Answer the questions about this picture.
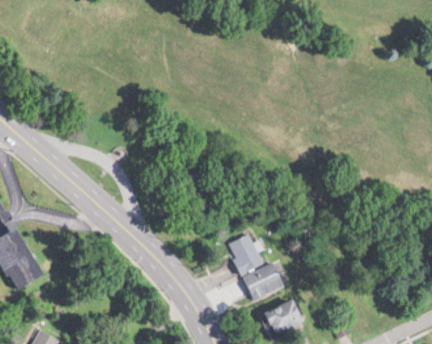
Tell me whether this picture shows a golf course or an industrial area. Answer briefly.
golf course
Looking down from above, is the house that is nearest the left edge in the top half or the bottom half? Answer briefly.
bottom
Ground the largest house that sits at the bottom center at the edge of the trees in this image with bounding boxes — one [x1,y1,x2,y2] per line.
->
[228,236,284,302]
